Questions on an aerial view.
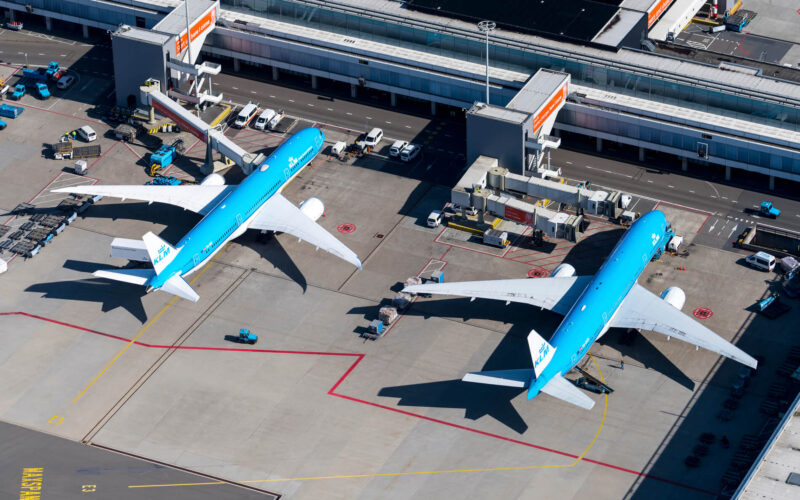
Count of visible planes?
2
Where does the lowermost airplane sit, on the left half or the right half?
right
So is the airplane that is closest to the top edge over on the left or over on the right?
left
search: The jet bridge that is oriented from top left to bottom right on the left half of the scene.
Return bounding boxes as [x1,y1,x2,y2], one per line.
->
[140,73,269,177]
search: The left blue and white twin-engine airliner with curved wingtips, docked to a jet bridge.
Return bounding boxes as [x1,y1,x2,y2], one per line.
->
[52,132,361,302]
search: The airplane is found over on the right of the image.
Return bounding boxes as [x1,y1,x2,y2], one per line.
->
[400,218,757,409]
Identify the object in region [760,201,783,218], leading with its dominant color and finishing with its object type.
blue work vehicle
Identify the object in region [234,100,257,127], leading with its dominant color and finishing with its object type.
white vehicle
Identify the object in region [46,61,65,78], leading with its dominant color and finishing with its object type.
blue work vehicle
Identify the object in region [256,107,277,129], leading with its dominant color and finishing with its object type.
white vehicle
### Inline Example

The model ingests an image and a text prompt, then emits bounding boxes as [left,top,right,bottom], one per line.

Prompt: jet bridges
[466,187,586,250]
[140,73,269,177]
[485,166,626,223]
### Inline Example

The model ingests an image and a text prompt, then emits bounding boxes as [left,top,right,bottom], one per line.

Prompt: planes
[52,132,361,302]
[400,218,757,409]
